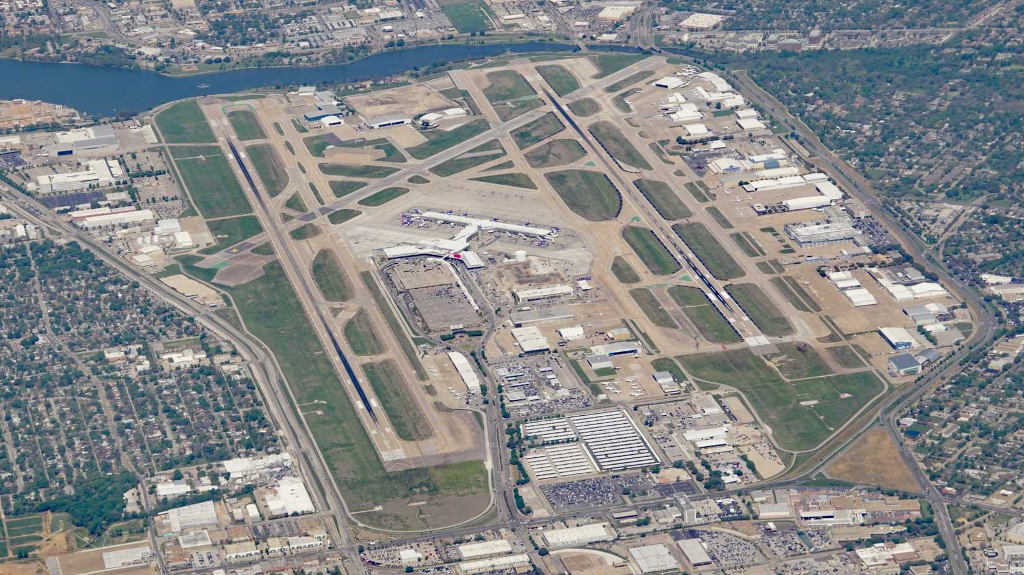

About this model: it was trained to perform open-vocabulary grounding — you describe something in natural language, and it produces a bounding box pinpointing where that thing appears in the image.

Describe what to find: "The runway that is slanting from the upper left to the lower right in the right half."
[515,68,773,346]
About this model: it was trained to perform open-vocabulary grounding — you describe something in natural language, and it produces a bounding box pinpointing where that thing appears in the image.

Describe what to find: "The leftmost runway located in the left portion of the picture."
[198,100,409,461]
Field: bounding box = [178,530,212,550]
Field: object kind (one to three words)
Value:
building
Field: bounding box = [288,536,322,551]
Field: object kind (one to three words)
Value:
building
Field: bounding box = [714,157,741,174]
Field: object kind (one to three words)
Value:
hangar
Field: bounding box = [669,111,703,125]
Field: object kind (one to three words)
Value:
hangar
